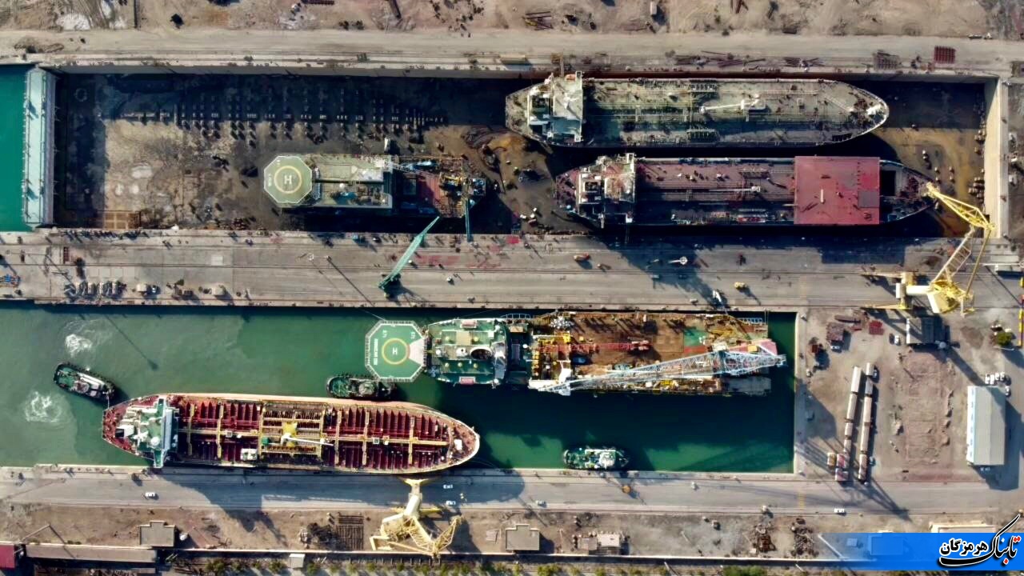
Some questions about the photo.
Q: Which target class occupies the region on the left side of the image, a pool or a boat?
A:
boat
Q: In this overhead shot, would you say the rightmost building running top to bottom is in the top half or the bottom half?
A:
bottom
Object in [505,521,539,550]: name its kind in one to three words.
building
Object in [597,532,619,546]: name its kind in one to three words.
shed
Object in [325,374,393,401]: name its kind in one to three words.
boat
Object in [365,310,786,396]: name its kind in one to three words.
ship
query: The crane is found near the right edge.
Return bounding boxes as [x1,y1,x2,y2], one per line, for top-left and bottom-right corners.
[864,181,997,323]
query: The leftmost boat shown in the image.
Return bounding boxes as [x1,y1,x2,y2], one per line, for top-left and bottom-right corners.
[50,363,113,402]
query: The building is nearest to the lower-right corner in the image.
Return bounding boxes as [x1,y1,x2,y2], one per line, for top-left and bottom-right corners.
[925,521,994,534]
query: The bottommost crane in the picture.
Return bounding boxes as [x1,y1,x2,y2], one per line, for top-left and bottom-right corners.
[366,479,466,559]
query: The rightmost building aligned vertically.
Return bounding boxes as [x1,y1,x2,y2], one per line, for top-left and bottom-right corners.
[967,387,1005,467]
